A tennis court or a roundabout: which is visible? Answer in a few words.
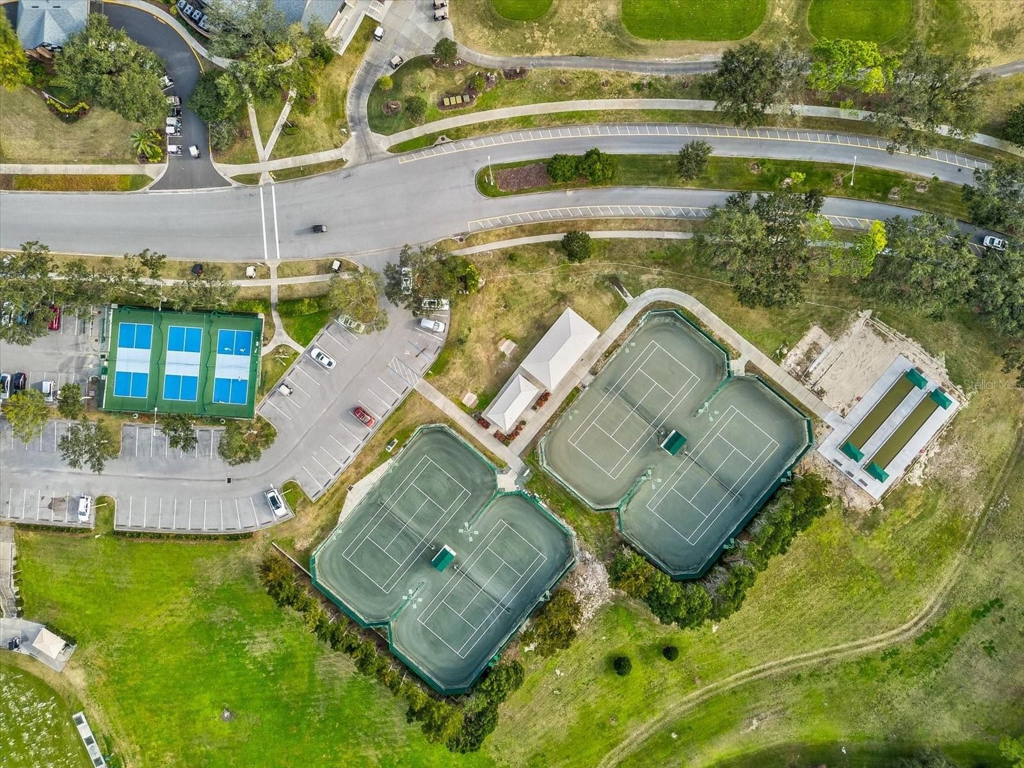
tennis court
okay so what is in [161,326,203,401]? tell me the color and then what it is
blue sports court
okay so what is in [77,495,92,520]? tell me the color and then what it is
white car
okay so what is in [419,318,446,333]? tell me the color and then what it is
white car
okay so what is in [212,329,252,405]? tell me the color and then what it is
blue sports court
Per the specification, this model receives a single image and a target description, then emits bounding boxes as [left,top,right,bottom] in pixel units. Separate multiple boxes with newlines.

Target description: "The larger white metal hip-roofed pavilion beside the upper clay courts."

[520,307,600,391]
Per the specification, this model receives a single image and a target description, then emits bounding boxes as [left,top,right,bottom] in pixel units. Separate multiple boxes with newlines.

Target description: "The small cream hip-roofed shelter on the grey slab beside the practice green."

[32,624,73,659]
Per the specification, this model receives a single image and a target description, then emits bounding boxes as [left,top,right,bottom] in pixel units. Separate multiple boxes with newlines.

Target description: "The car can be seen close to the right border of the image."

[980,236,1008,251]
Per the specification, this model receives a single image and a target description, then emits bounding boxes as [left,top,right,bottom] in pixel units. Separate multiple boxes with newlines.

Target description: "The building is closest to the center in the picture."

[486,374,539,431]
